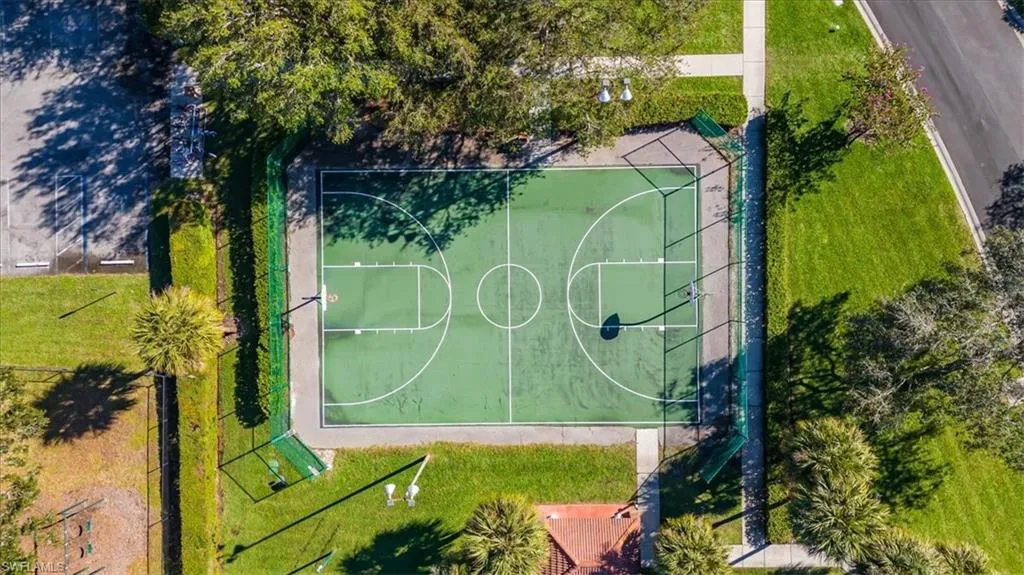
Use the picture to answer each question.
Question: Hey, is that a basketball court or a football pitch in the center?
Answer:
basketball court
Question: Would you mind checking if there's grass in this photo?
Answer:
Yes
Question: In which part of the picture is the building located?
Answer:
bottom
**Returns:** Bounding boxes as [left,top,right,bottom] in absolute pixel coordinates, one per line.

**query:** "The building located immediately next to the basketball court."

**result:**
[535,502,644,575]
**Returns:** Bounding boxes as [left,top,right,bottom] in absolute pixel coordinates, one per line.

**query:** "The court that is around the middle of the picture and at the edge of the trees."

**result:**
[289,129,730,449]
